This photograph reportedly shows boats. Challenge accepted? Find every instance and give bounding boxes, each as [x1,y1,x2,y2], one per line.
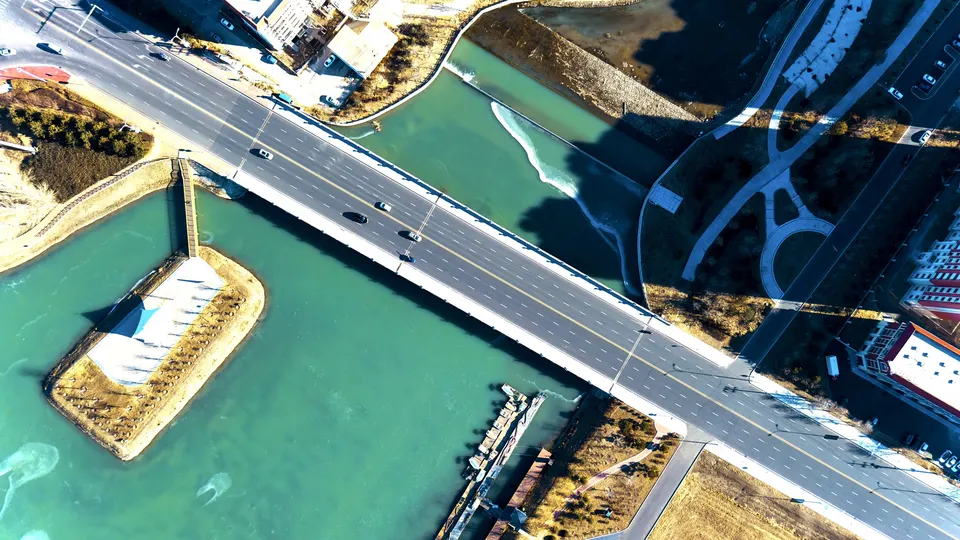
[473,470,488,485]
[475,442,490,455]
[461,465,475,483]
[503,400,518,413]
[483,427,501,442]
[498,408,512,420]
[499,382,518,398]
[467,454,483,472]
[490,418,506,431]
[517,399,530,414]
[510,395,521,403]
[488,446,501,461]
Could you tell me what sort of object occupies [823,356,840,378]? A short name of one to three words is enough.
vehicle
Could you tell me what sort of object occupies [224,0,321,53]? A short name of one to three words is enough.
building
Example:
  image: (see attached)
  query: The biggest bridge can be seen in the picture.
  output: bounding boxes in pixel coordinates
[229,100,656,396]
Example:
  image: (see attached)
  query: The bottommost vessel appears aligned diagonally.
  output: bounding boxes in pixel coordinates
[432,480,476,540]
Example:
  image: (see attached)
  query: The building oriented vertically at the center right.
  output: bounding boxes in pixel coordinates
[905,191,960,318]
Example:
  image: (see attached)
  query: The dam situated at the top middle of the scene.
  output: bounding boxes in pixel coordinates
[442,4,705,191]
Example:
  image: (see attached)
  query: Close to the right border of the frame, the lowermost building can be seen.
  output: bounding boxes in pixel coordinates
[841,312,960,429]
